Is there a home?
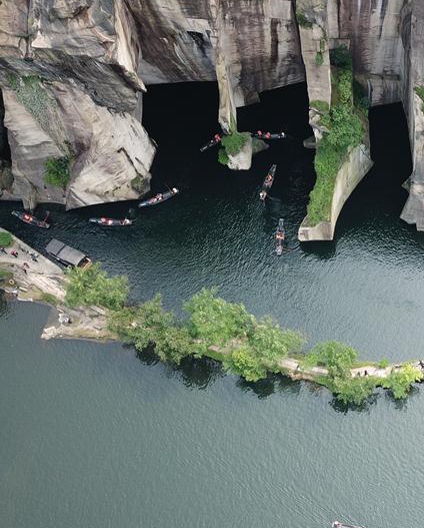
No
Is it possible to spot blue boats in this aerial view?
No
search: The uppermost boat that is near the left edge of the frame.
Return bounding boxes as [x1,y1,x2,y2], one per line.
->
[13,211,51,228]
